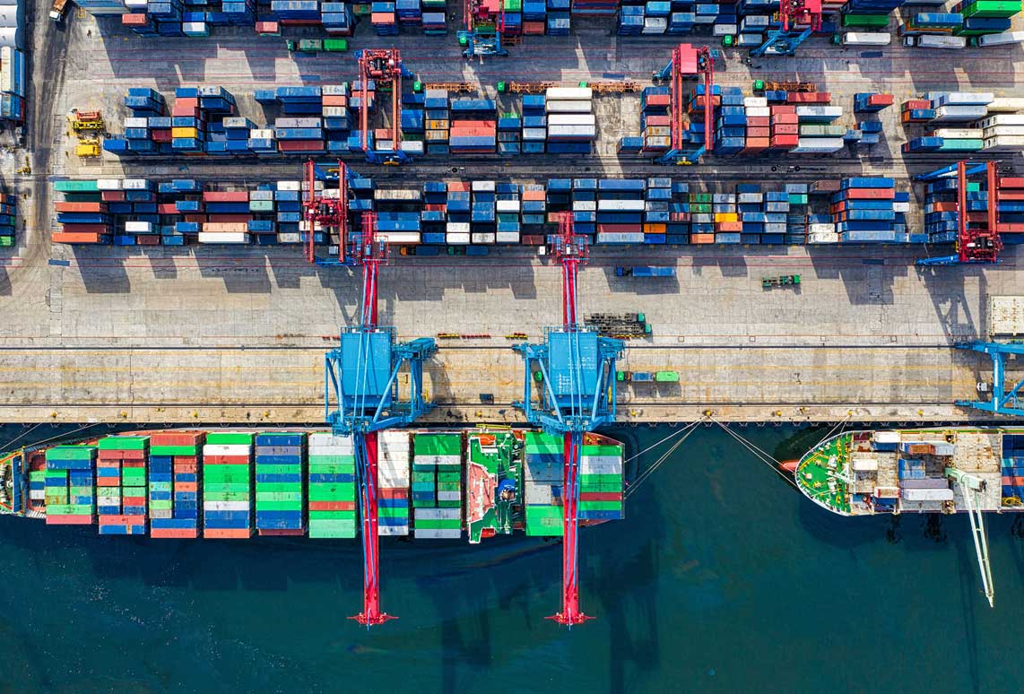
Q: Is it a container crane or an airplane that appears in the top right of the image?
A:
container crane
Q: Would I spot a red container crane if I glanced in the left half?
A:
Yes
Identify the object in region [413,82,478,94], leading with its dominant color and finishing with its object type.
green vehicle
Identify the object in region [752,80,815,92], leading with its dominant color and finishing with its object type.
green vehicle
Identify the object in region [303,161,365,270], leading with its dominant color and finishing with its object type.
red container crane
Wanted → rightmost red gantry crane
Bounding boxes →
[915,161,1002,270]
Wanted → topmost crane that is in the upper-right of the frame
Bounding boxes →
[753,0,823,60]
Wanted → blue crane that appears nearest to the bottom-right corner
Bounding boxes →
[954,342,1024,417]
